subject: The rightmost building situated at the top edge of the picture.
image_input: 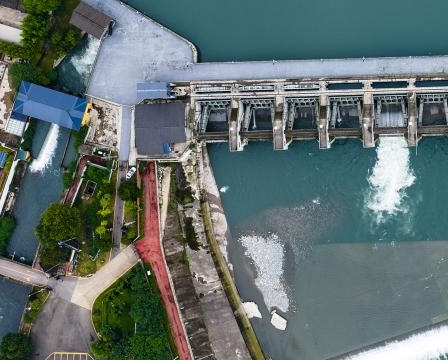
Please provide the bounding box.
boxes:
[69,2,119,43]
